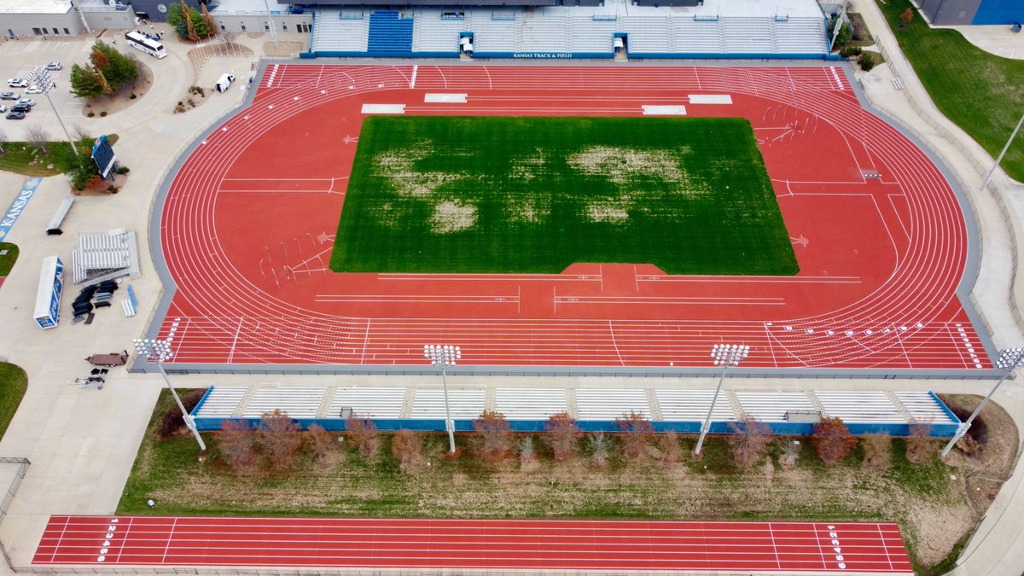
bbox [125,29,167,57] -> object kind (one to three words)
bus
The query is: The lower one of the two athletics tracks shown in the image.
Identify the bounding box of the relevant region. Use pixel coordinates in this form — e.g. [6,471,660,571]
[29,514,915,572]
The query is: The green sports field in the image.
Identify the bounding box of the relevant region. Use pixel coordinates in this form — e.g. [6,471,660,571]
[329,115,800,275]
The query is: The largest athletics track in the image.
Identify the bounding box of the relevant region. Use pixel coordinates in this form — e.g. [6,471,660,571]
[128,59,1015,381]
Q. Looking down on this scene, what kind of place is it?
sports ground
